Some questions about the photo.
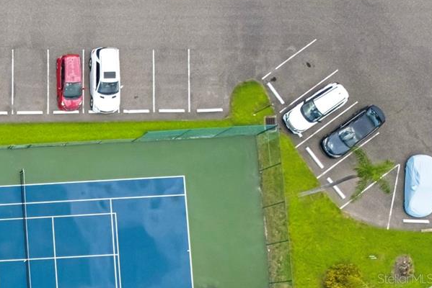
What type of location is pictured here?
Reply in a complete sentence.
The picture captures a sports ground.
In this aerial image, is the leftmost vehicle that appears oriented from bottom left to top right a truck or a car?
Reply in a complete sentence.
I'd identify the leftmost vehicle that appears oriented from bottom left to top right as a car.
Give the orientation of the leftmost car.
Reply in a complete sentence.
In this picture, the leftmost car is oriented from top to bottom.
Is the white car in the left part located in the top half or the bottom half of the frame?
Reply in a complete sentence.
You can find the white car in the left part in the top half.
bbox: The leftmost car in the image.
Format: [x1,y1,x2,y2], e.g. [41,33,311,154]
[55,53,87,111]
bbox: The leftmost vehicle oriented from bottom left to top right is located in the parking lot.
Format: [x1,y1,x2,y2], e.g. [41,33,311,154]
[286,79,355,133]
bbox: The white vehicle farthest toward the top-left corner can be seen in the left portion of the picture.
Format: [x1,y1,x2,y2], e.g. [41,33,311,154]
[88,44,124,114]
